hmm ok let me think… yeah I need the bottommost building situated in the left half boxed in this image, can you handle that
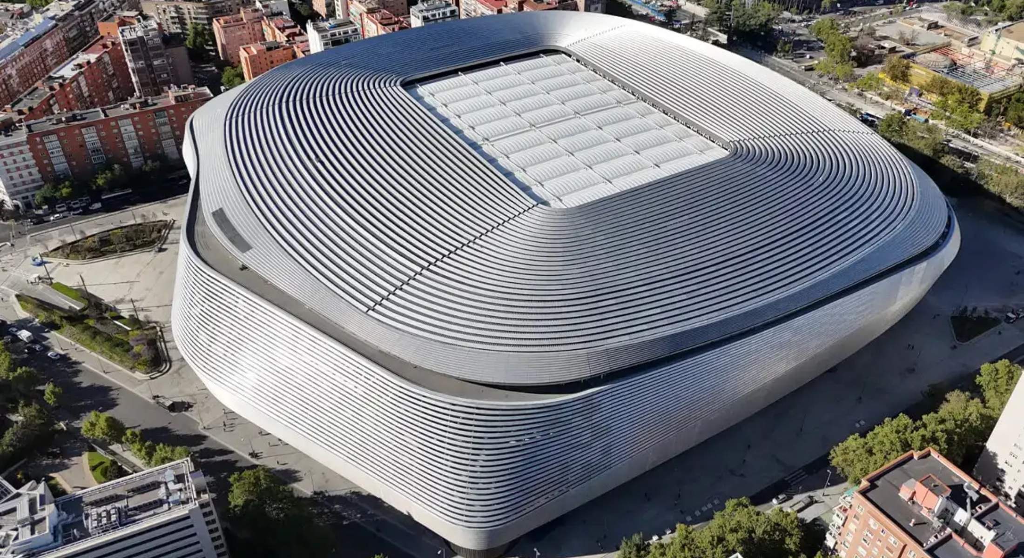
[0,458,228,558]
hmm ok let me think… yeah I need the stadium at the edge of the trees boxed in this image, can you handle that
[174,11,960,553]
